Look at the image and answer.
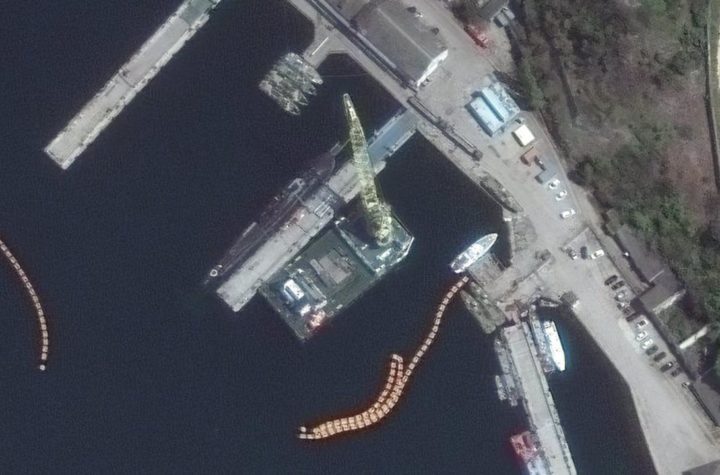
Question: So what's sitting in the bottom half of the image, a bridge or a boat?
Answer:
boat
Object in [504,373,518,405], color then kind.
gray vessel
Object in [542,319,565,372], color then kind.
white vessel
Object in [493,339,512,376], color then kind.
gray boat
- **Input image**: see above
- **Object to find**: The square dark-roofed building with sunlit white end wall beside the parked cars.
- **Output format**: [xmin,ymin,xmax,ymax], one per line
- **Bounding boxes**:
[638,269,686,309]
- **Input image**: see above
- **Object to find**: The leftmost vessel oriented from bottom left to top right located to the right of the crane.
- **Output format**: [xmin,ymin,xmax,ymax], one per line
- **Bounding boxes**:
[449,235,497,273]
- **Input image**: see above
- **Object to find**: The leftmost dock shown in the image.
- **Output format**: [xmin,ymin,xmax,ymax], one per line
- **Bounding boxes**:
[45,0,221,169]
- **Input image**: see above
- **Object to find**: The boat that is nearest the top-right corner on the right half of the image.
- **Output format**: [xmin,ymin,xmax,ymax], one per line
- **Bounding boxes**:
[477,173,524,212]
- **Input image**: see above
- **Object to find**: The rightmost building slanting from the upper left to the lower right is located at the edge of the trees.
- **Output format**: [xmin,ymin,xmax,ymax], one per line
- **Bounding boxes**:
[615,222,672,286]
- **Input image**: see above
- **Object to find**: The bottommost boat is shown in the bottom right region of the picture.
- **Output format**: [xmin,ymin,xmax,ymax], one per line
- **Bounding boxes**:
[511,431,550,475]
